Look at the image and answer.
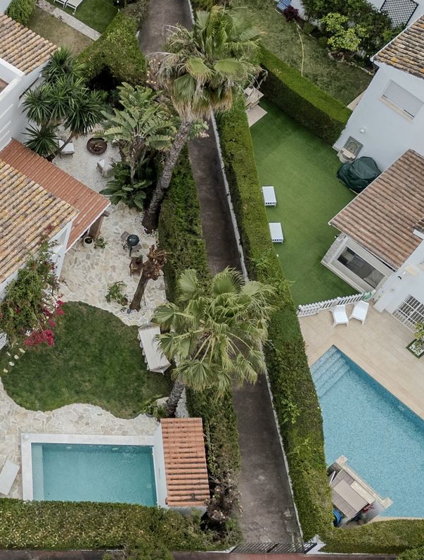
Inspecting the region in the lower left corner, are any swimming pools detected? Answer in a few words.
Yes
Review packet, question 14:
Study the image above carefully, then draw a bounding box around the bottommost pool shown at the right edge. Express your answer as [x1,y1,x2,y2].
[310,349,424,518]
